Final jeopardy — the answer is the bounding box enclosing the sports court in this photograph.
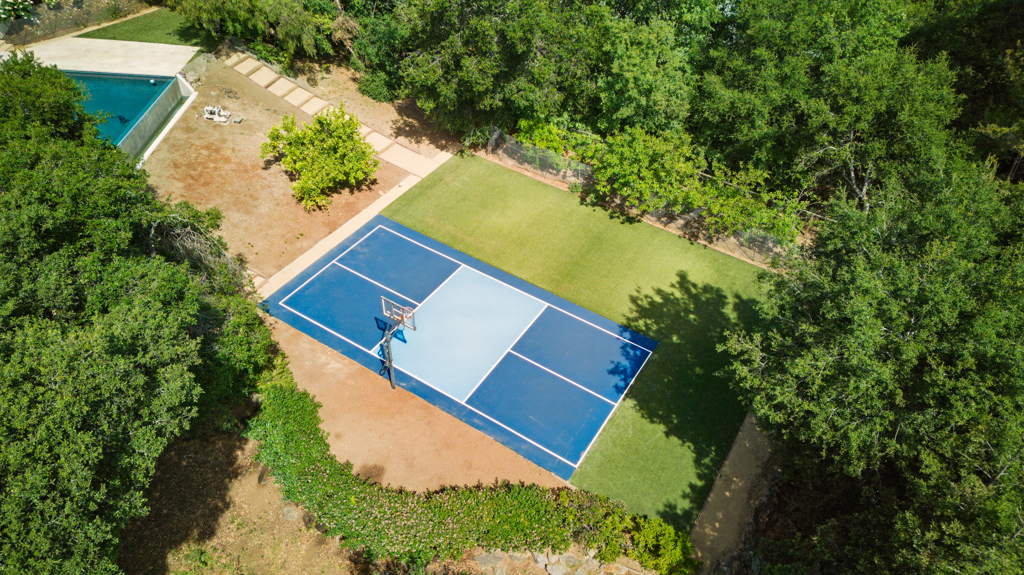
[260,215,658,482]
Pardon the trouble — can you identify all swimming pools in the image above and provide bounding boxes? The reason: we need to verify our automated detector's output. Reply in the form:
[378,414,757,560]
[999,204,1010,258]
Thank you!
[1,64,196,182]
